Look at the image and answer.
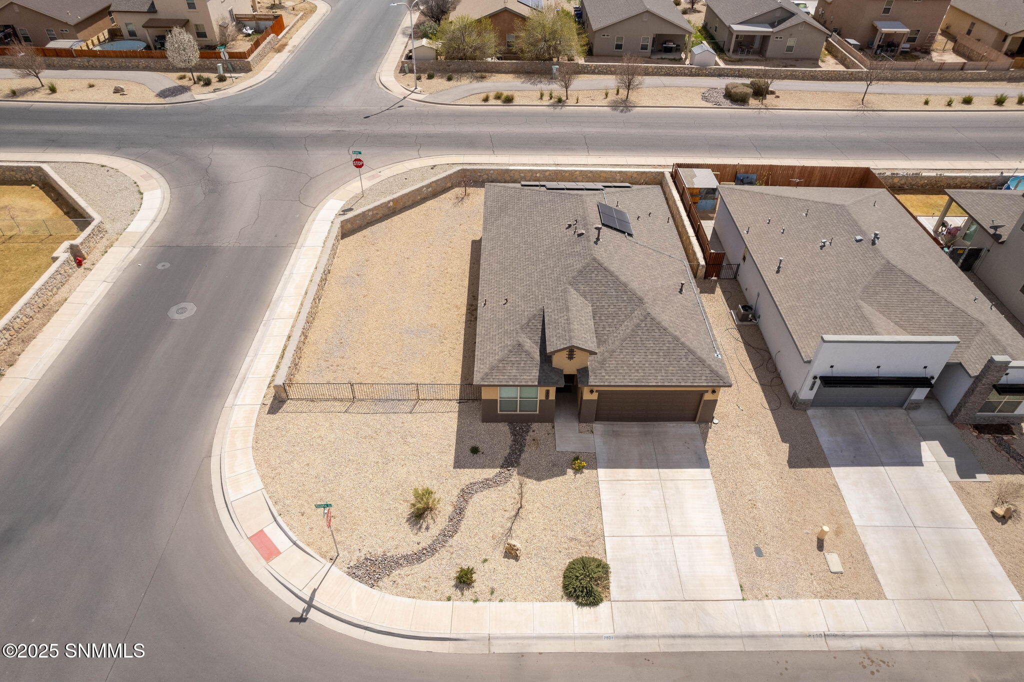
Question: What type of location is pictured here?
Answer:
residential area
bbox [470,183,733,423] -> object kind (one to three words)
house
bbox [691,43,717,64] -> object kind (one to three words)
shed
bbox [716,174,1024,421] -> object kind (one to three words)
house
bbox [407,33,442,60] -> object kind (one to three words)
shed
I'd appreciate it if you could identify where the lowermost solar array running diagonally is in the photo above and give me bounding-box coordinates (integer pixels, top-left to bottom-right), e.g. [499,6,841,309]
[598,202,633,235]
